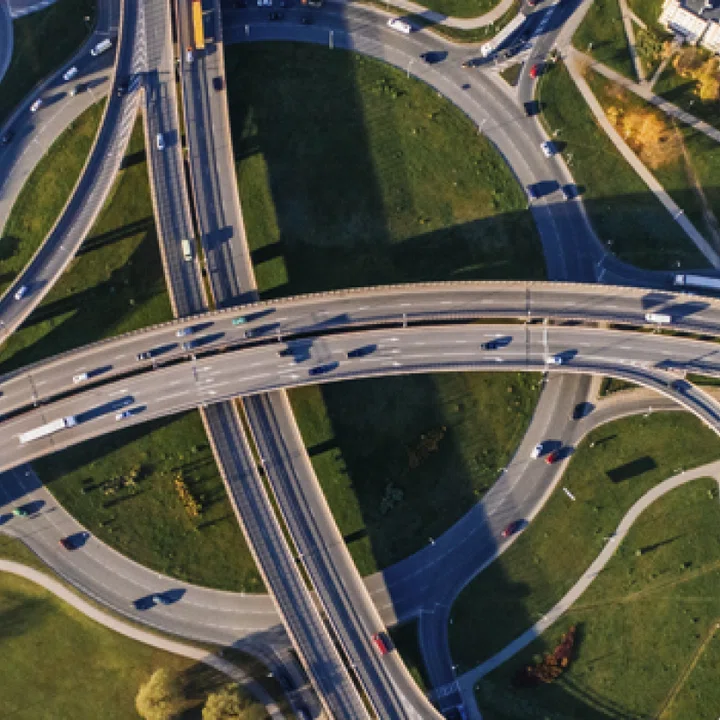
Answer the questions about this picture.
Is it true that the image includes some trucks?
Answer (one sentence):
Yes, the photo shows a truck.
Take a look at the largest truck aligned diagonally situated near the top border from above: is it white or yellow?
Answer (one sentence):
From above, the largest truck aligned diagonally situated near the top border appears white.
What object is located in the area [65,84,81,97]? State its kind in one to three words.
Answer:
vehicle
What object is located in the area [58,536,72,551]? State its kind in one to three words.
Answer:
car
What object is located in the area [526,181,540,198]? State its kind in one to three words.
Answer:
vehicle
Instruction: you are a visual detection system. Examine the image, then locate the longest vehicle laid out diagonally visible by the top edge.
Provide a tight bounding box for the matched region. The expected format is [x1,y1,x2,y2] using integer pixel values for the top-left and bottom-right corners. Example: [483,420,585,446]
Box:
[482,6,531,54]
